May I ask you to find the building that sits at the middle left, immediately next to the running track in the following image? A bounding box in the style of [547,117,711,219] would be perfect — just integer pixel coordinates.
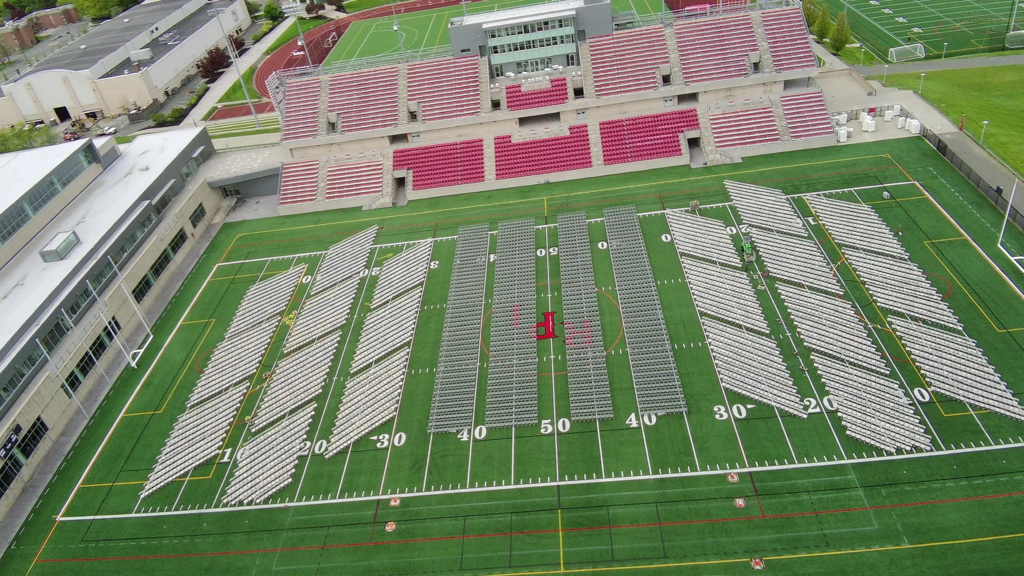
[0,125,220,517]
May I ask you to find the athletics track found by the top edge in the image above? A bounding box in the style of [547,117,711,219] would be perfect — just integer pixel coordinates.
[256,0,452,91]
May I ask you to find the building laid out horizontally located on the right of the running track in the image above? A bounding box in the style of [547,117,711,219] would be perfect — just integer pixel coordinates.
[448,0,614,77]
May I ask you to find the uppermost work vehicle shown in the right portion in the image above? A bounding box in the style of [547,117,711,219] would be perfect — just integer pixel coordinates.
[741,232,757,260]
